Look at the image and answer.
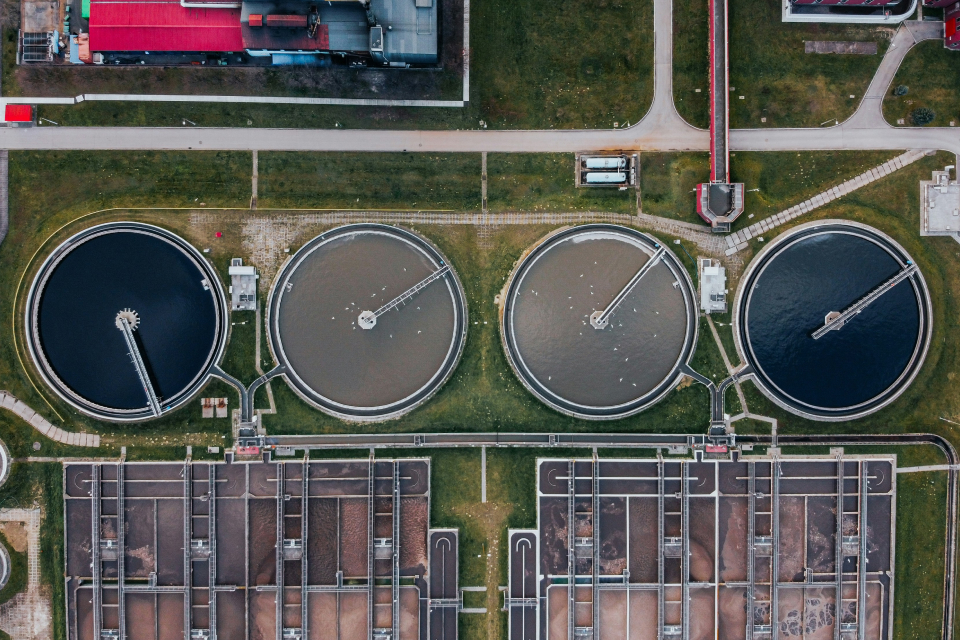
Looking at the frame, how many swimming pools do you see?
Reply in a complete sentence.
The picture shows no swimming pools.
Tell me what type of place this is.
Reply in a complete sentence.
This image shows an industrial area.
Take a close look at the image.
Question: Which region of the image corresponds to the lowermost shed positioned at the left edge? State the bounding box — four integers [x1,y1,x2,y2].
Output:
[5,105,37,124]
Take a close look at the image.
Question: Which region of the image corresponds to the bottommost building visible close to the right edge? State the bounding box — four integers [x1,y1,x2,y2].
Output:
[917,164,960,247]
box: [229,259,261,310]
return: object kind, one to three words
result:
building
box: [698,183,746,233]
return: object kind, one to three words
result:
house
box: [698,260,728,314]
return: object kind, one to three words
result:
building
